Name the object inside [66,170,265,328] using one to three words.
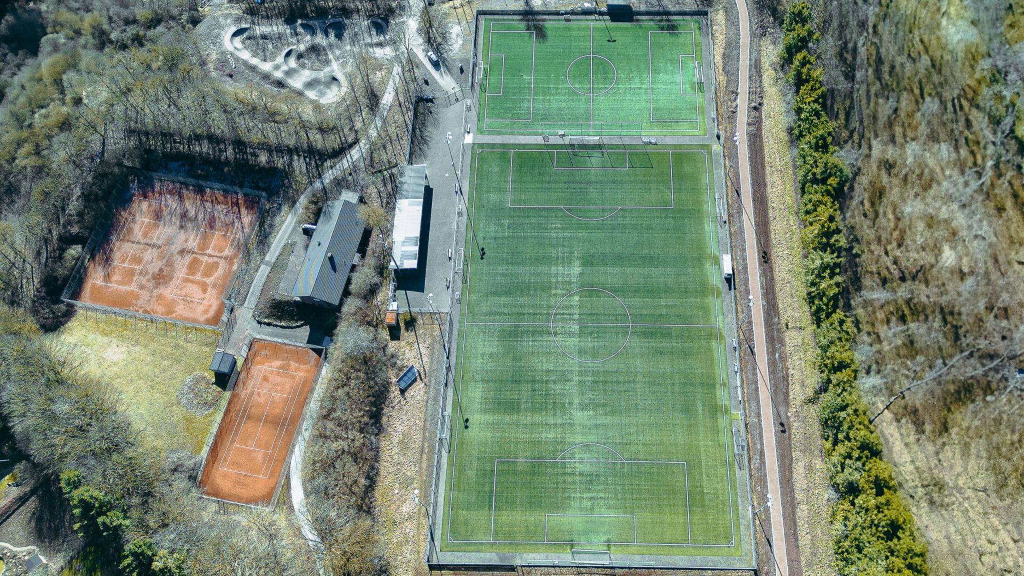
tennis court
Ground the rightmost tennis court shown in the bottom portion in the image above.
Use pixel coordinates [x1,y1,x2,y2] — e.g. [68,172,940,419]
[199,336,323,508]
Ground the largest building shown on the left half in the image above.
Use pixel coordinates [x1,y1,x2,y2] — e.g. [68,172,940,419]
[291,194,373,309]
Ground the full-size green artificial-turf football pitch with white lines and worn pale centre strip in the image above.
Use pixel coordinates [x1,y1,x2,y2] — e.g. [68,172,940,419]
[440,144,742,557]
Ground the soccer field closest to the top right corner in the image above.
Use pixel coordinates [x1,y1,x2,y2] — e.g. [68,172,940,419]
[477,18,707,136]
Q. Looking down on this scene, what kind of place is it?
sports ground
